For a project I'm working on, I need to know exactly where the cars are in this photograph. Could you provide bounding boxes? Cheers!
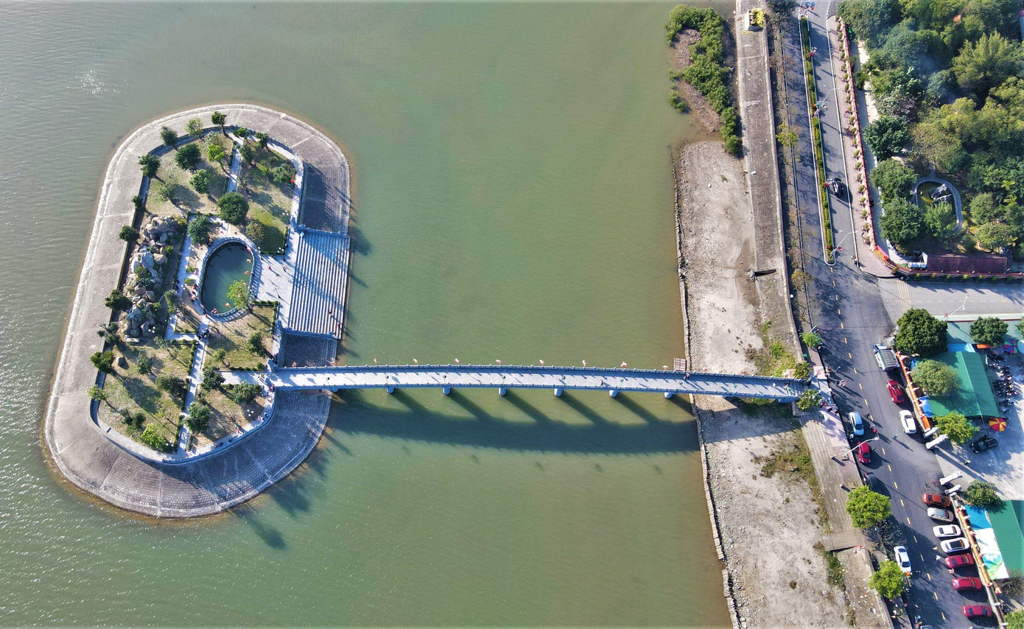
[938,537,970,552]
[925,506,955,523]
[829,178,845,197]
[950,575,983,591]
[856,440,873,465]
[896,409,919,435]
[859,468,879,491]
[892,544,912,575]
[961,603,994,619]
[885,380,907,405]
[931,523,962,537]
[921,494,951,508]
[968,435,1000,452]
[944,552,975,568]
[910,623,924,629]
[846,411,864,436]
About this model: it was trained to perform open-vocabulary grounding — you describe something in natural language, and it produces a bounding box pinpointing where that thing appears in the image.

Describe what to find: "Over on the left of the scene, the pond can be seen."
[195,235,258,318]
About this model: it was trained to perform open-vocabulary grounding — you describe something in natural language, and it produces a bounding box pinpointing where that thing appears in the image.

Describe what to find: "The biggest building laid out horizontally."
[914,254,1006,281]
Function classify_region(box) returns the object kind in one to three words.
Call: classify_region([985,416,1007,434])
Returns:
umbrella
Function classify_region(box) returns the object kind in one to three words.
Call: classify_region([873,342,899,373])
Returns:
truck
